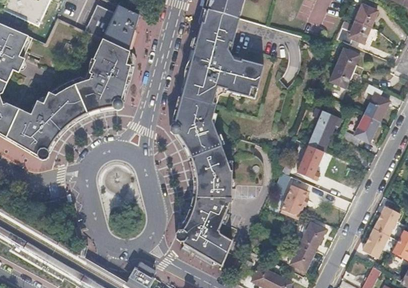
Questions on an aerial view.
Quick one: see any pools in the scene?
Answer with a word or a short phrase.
No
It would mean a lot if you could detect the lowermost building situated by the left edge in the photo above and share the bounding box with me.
[0,24,135,158]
